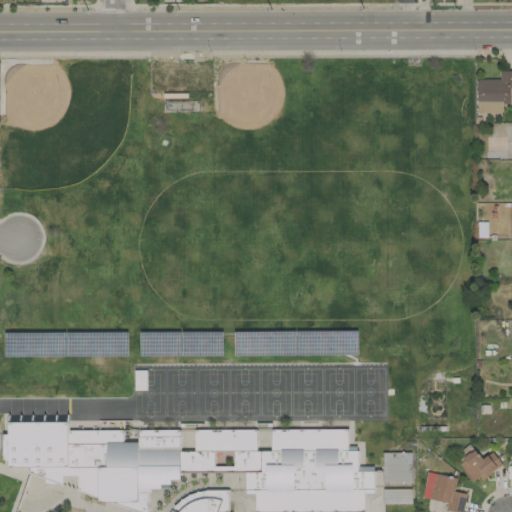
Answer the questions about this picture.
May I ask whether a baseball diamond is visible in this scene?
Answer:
Yes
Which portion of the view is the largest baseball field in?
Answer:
top left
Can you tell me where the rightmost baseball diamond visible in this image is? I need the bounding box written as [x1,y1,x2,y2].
[216,60,285,130]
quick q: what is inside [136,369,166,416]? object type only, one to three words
basketball court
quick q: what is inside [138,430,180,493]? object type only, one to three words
building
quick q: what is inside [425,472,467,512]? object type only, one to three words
house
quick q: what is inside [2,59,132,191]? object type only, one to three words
baseball field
